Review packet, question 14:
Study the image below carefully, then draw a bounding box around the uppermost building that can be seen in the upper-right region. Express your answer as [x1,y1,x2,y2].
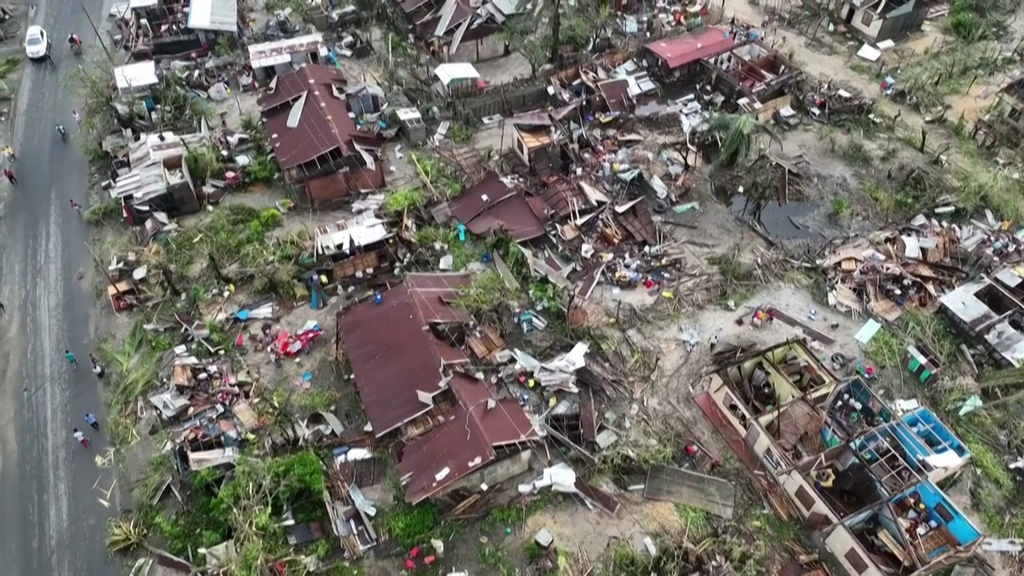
[830,0,926,47]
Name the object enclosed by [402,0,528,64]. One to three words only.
house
